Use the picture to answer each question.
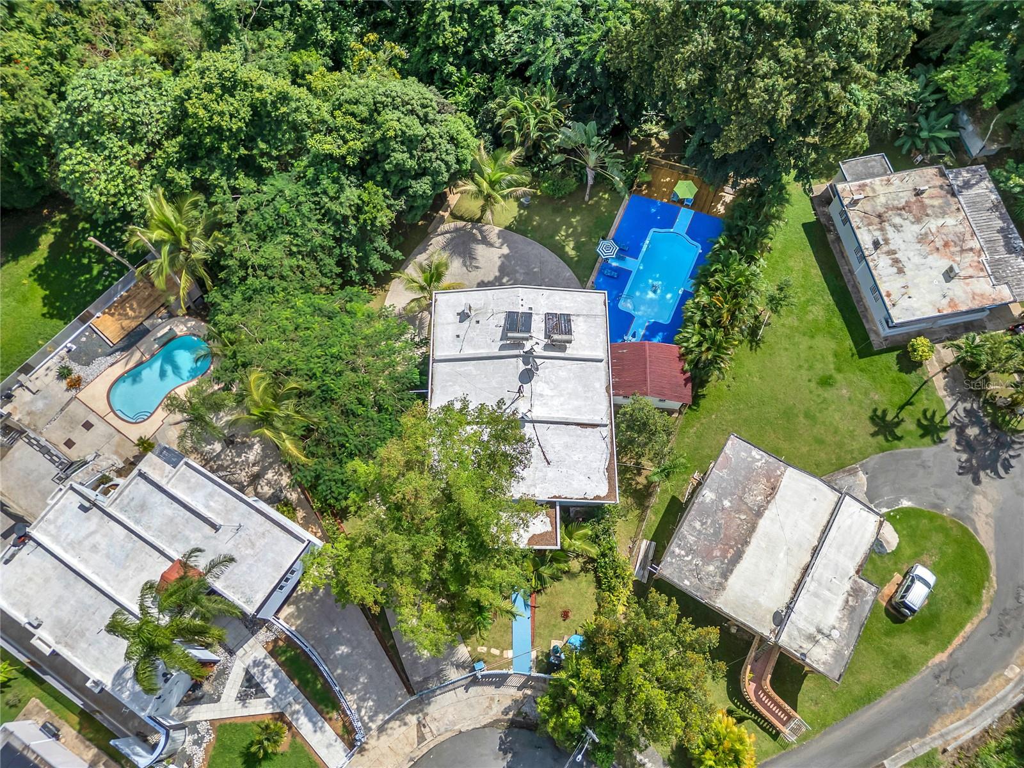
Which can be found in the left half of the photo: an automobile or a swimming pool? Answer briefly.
swimming pool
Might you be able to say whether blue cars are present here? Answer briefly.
No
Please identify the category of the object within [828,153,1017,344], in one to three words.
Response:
house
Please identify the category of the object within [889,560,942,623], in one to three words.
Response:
car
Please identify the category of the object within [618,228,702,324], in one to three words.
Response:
swimming pool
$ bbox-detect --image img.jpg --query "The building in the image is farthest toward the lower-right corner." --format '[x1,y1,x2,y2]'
[657,434,886,685]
